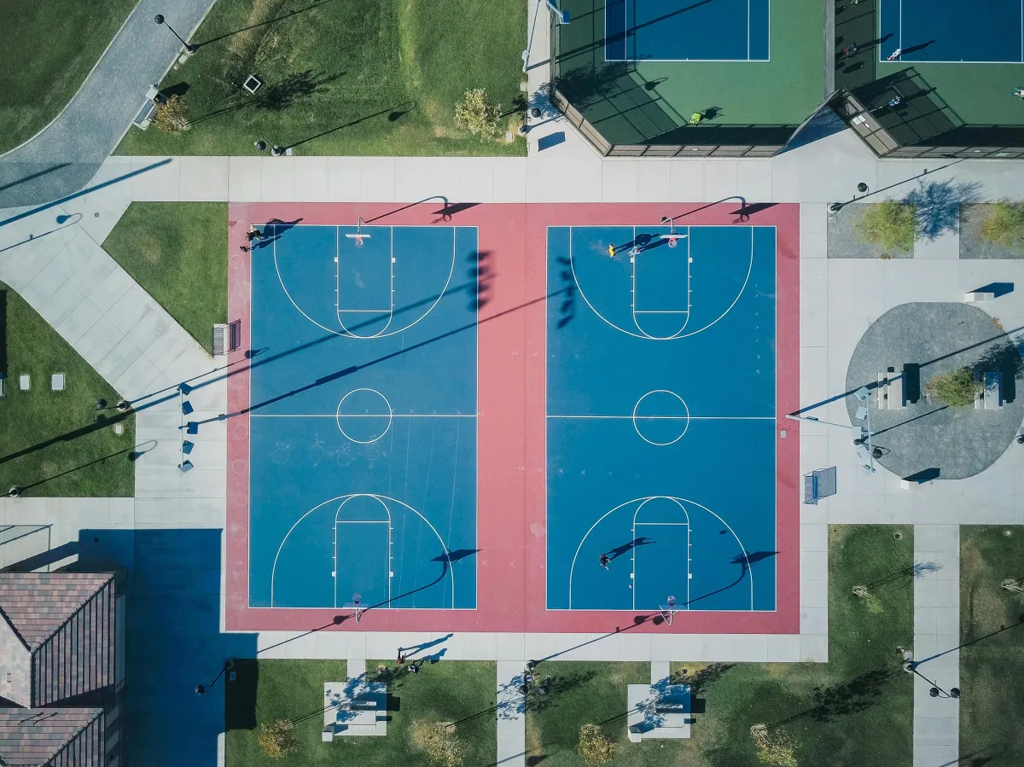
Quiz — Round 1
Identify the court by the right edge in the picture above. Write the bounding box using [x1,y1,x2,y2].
[880,0,1024,62]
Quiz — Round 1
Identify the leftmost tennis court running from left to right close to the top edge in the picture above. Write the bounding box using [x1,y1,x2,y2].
[605,0,770,61]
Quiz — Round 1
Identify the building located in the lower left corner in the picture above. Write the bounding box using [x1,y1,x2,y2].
[0,569,128,767]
